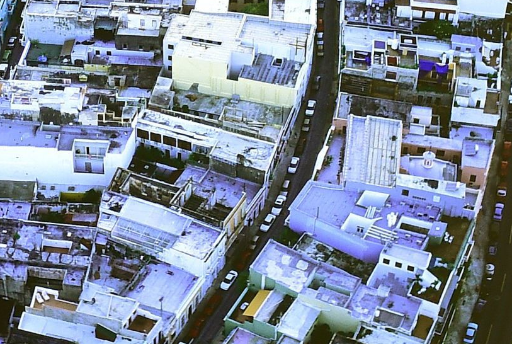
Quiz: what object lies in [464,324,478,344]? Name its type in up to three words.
car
